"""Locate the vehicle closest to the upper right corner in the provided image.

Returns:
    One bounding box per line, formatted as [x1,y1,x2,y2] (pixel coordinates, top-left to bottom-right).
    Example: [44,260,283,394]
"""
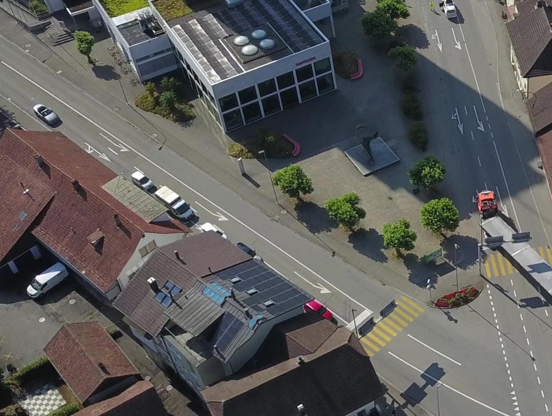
[437,0,455,18]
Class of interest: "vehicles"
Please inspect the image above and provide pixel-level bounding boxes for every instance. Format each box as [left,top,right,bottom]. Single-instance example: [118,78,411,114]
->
[437,0,455,18]
[32,105,60,125]
[232,238,258,256]
[25,260,69,295]
[151,181,194,220]
[129,170,156,191]
[473,183,498,230]
[196,219,229,239]
[312,299,335,319]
